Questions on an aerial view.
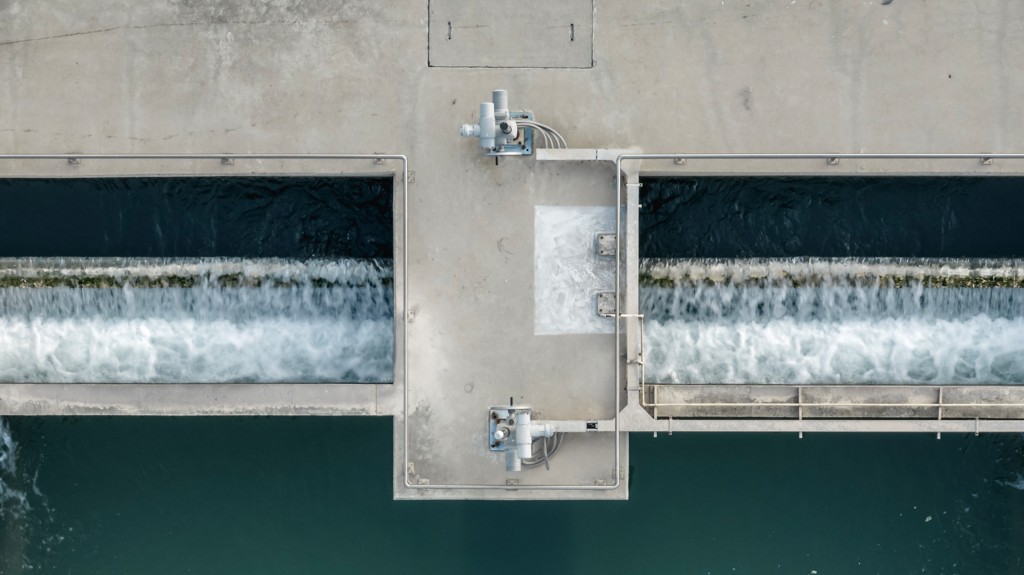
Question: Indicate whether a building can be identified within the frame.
No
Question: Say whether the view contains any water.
Yes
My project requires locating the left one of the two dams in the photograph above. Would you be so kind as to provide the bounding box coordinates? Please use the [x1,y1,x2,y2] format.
[0,258,394,287]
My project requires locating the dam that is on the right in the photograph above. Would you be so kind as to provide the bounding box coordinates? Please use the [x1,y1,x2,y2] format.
[639,258,1024,287]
